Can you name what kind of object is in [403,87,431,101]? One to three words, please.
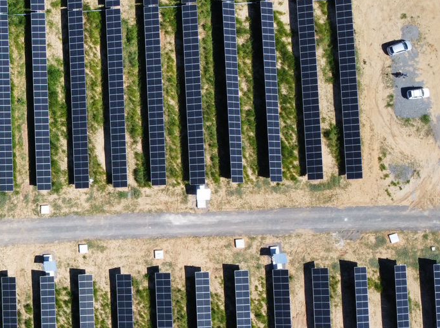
car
